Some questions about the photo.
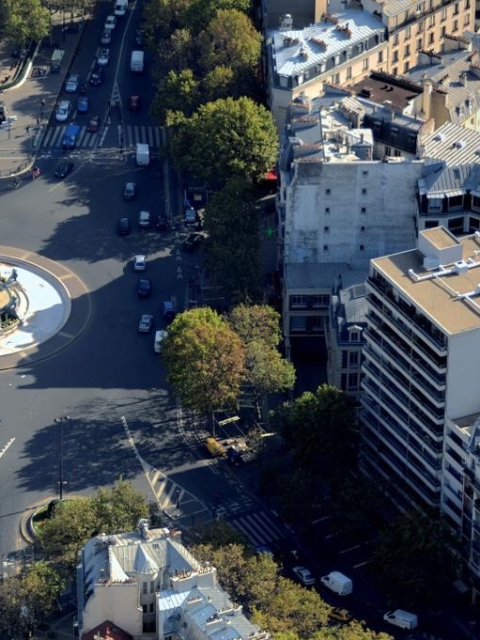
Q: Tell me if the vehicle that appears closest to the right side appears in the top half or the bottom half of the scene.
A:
bottom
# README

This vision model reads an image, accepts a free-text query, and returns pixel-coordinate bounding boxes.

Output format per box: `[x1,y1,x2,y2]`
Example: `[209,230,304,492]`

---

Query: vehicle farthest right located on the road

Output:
[384,606,419,630]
